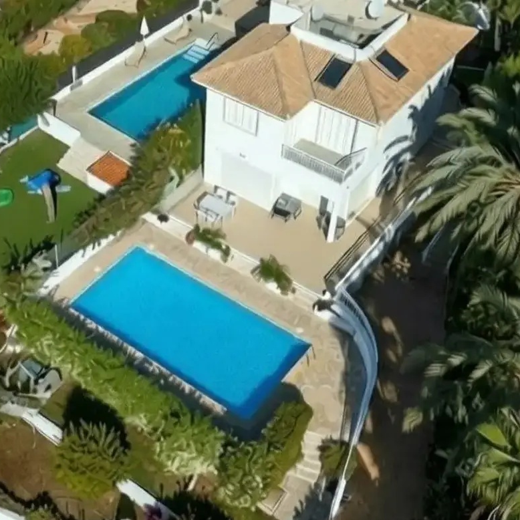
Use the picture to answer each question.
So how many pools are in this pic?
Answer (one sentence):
The picture shows 2 pools.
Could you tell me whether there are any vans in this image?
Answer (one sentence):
No, no van is visible in the scene.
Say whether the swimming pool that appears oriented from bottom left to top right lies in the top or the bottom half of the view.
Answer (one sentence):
The top half of the photo is where the swimming pool that appears oriented from bottom left to top right is.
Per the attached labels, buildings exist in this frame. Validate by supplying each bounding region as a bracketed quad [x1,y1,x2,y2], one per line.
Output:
[88,145,129,182]
[191,0,482,244]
